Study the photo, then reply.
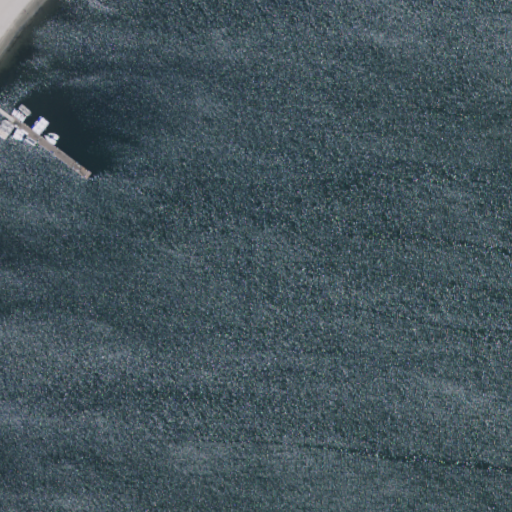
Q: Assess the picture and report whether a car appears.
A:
No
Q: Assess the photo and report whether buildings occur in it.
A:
No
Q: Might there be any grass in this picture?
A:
No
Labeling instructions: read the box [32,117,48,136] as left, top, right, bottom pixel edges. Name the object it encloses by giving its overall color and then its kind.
white boat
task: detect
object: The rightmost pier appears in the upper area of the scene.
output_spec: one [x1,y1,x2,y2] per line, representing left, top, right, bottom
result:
[10,117,92,179]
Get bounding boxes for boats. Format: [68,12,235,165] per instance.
[0,126,10,139]
[48,131,59,140]
[12,110,26,122]
[0,119,14,132]
[25,137,37,146]
[32,117,48,136]
[18,104,32,116]
[12,130,25,142]
[42,135,57,146]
